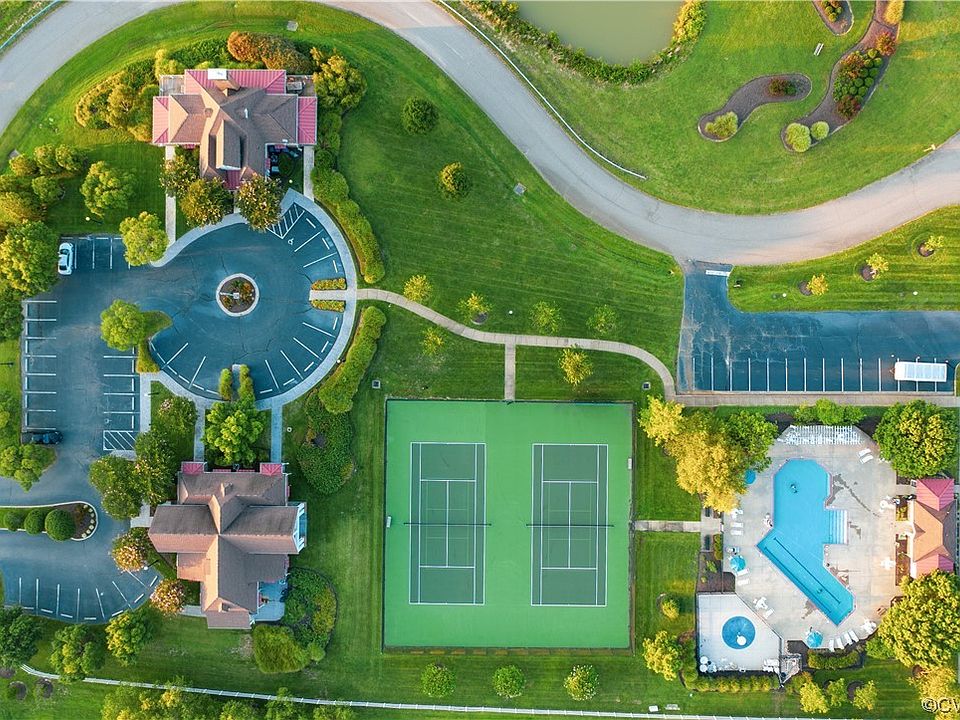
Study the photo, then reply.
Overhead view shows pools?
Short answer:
Yes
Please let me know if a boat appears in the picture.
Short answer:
No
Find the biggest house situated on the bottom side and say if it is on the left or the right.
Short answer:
left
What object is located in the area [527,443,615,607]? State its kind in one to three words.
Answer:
tennis court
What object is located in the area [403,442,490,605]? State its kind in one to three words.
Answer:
tennis court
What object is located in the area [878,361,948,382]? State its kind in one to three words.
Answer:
trailer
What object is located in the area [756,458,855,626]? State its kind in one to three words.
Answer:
swimming pool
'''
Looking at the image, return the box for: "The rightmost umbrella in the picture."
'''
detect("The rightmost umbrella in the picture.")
[804,629,821,646]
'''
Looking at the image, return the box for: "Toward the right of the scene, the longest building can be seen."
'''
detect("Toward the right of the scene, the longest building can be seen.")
[908,478,956,581]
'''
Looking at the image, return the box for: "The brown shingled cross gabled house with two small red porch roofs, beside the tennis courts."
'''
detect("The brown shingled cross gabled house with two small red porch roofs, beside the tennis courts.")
[146,461,308,631]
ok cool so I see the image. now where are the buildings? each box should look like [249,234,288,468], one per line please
[908,478,956,581]
[152,69,320,193]
[146,461,308,631]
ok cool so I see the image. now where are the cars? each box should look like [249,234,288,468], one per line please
[31,430,65,445]
[59,243,77,275]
